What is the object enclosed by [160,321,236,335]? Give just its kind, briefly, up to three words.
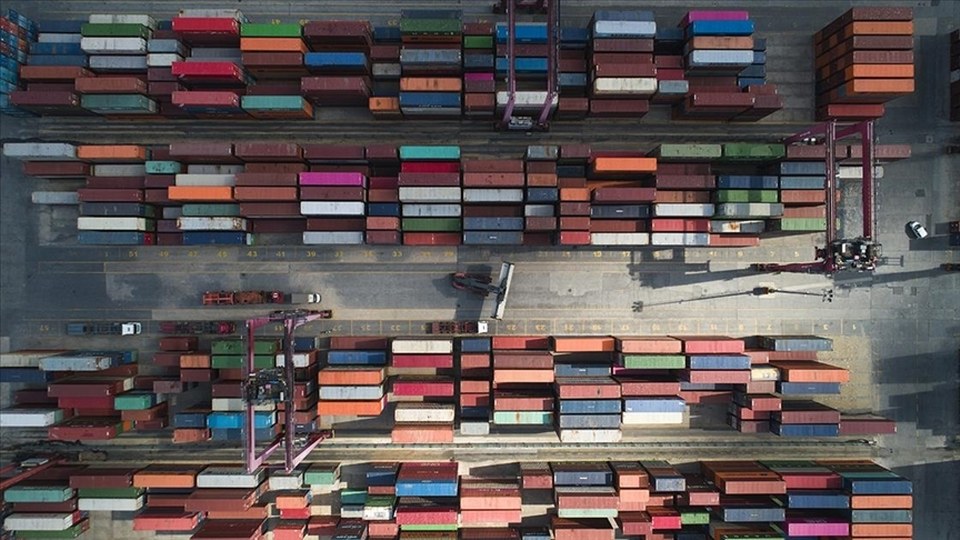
vehicle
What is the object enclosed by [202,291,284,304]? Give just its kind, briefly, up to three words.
vehicle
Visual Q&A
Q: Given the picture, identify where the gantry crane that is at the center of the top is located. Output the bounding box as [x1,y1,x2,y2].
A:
[488,0,559,130]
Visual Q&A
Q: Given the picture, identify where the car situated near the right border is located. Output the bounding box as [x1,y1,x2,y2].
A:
[908,219,926,239]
